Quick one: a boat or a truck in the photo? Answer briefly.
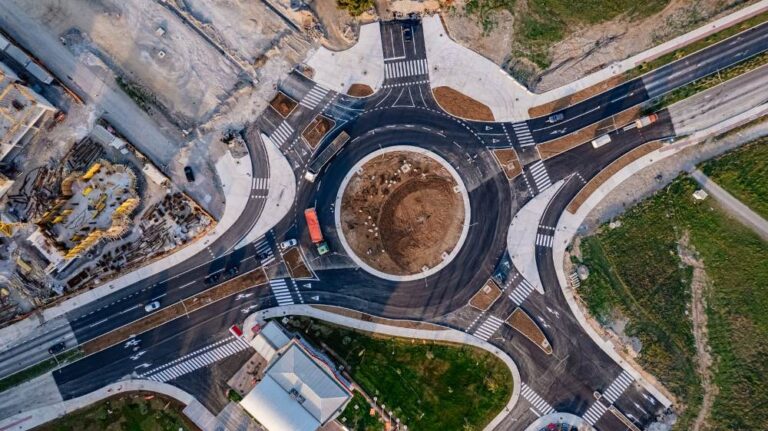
truck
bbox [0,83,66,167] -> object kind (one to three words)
building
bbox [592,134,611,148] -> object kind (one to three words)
vehicle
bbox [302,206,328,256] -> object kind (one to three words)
truck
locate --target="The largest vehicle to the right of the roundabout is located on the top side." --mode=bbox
[636,110,664,129]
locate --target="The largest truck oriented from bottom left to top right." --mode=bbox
[303,128,350,181]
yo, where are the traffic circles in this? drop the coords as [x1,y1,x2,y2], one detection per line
[268,100,515,325]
